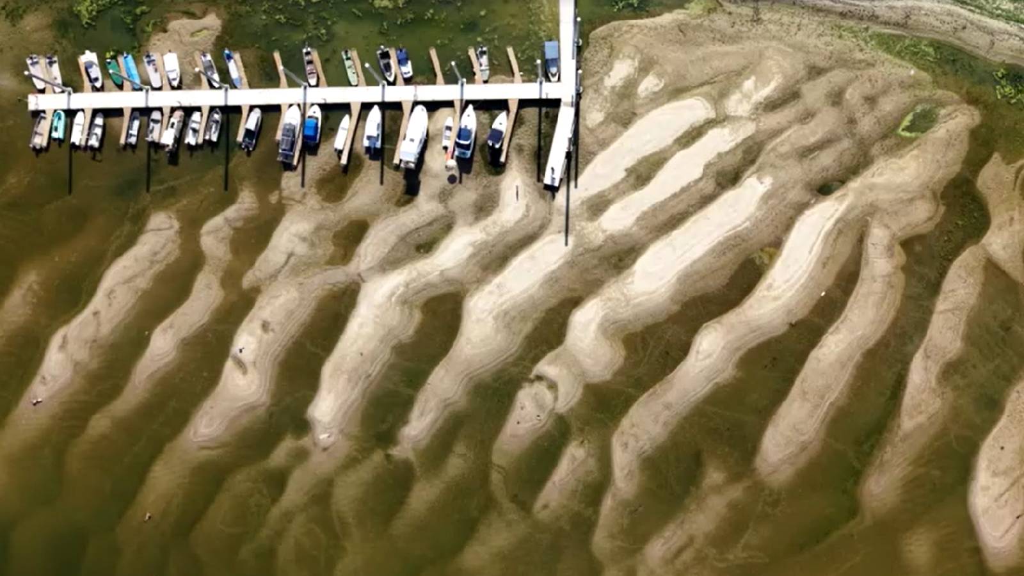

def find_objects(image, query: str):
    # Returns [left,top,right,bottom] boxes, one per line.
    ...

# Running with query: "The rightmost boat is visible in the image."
[545,40,560,82]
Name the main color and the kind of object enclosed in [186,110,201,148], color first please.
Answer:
white boat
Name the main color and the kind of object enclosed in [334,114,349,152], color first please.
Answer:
white boat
